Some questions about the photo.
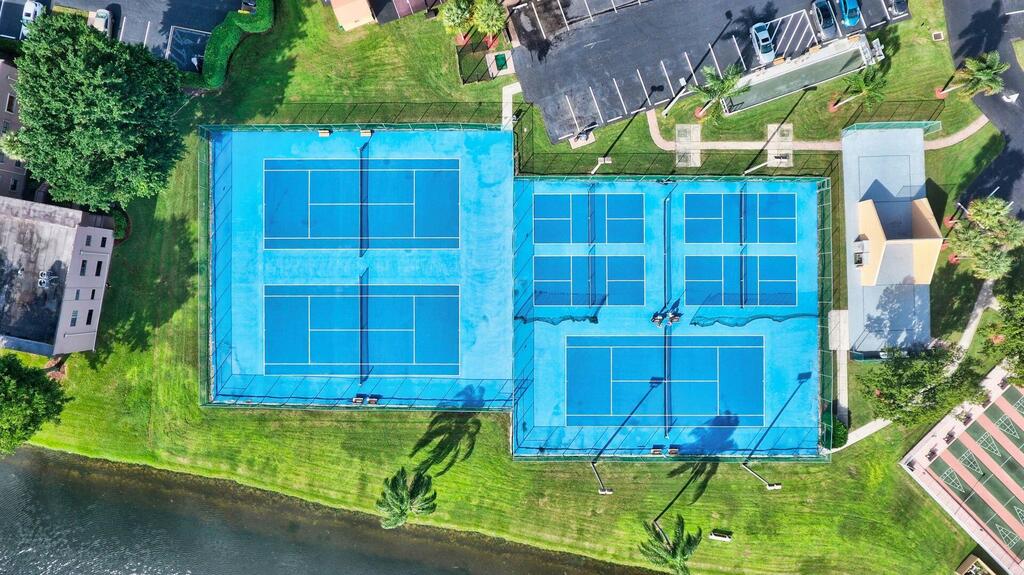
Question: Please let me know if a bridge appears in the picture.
No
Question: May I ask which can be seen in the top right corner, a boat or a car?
car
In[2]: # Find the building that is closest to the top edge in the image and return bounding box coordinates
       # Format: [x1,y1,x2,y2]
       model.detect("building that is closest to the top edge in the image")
[330,0,375,31]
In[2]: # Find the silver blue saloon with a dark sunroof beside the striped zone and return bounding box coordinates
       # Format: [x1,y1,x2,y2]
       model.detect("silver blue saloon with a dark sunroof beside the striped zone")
[748,23,774,66]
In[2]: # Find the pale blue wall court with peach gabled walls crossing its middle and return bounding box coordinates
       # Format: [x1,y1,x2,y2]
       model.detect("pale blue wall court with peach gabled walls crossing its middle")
[842,125,951,351]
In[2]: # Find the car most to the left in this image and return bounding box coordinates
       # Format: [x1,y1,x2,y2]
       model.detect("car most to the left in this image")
[18,0,45,38]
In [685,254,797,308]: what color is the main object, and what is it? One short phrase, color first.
blue sports court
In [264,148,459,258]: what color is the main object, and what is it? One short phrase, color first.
blue tennis court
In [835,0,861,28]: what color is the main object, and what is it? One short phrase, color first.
blue car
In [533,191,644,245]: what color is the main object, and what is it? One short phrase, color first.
blue sports court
